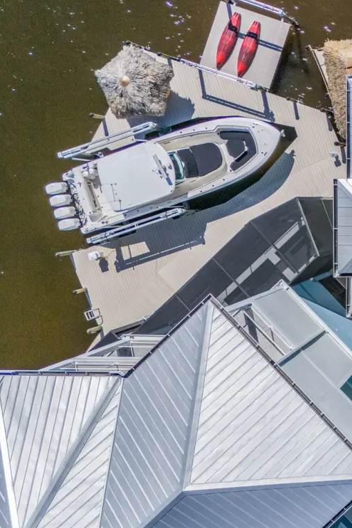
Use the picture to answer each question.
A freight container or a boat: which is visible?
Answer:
boat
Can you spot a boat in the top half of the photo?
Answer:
Yes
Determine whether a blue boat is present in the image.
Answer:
No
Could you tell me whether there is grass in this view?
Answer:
No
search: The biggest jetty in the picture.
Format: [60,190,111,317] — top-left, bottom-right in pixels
[53,36,344,342]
